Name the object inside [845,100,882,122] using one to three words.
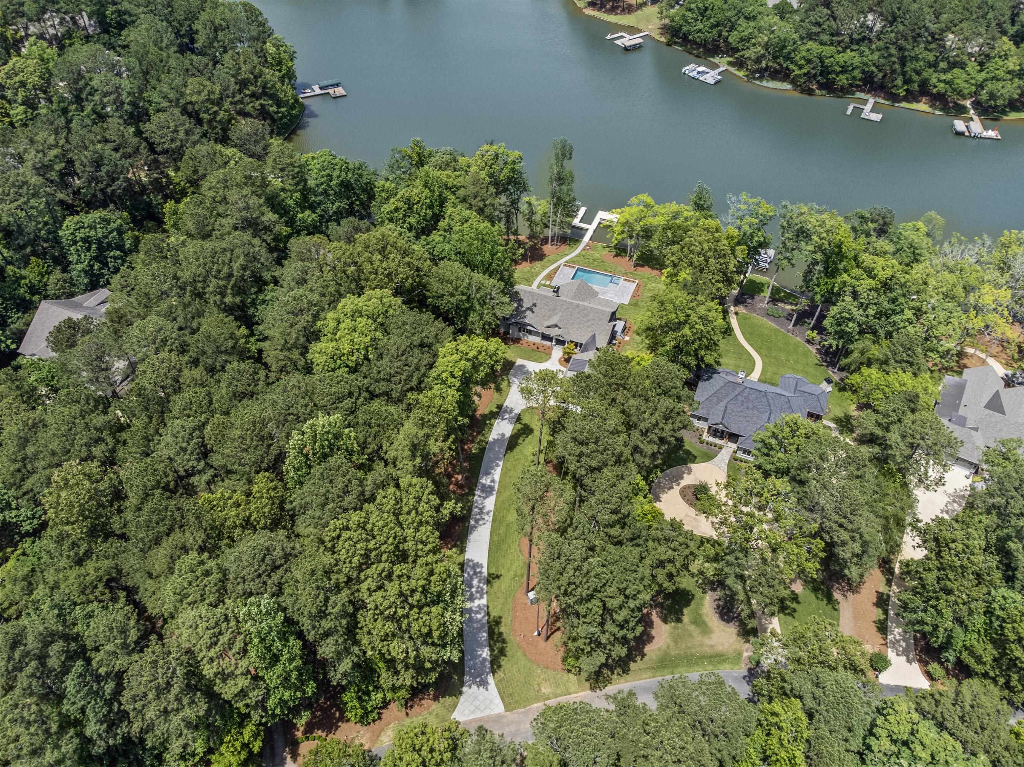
pier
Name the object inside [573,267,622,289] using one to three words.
swimming pool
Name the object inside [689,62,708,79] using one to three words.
boat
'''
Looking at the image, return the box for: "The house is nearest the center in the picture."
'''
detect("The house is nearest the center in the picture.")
[496,278,630,394]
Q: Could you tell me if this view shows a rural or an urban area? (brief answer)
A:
rural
